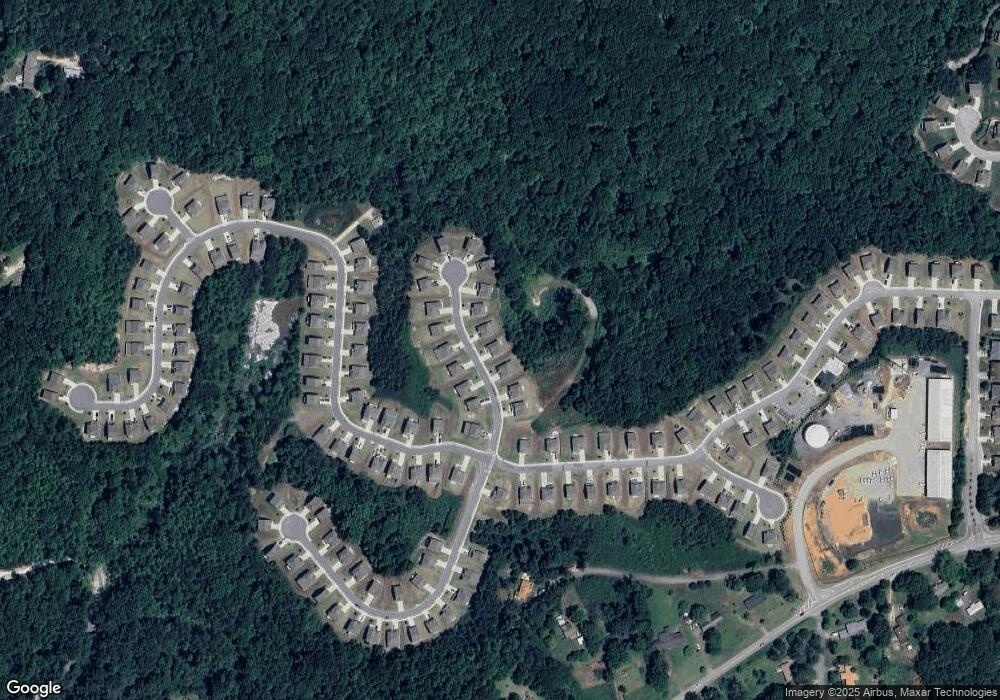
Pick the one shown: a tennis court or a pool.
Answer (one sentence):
The image shows a pool.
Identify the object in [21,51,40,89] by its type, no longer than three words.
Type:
house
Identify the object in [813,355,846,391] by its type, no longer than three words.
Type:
swimming pool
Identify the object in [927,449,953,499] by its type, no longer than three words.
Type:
building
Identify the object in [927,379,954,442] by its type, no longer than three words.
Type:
building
